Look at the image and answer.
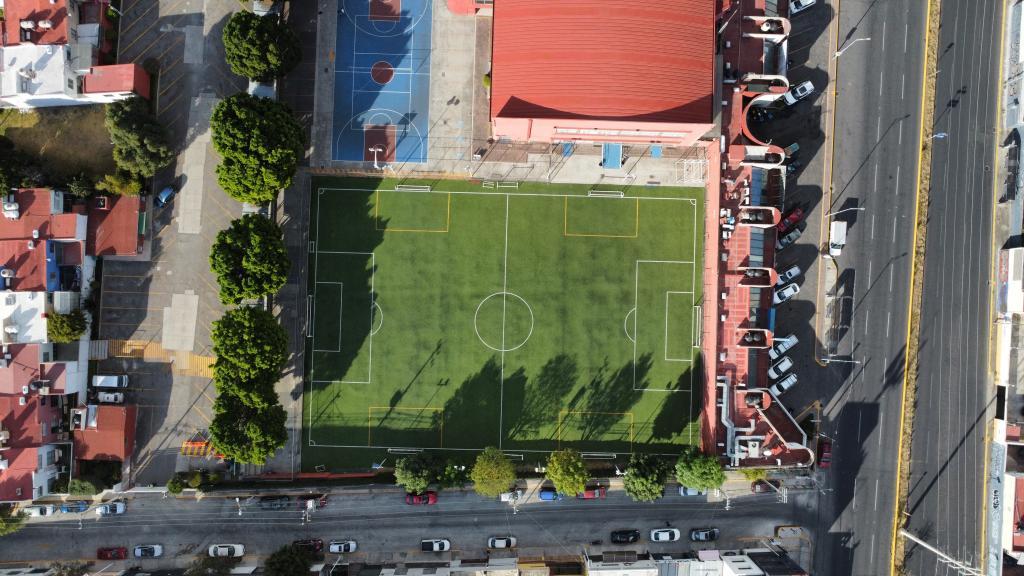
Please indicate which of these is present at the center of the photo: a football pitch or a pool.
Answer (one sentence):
It is a football pitch that can be seen at the center of the photo.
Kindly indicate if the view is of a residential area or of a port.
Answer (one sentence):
It's a residential area.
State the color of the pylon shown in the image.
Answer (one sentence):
In this view, the pylon is white.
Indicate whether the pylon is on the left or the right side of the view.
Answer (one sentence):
The pylon appears in the right half of the scene.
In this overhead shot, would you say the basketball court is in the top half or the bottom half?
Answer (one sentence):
Seen from above, the basketball court lies in the top half of the view.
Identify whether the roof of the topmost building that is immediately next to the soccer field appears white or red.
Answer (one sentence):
From above, the roof of the topmost building that is immediately next to the soccer field appears red.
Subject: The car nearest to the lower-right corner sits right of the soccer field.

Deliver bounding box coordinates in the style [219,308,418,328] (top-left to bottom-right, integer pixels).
[818,440,832,468]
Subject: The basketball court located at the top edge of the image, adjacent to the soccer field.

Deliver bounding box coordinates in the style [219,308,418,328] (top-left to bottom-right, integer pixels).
[332,0,432,163]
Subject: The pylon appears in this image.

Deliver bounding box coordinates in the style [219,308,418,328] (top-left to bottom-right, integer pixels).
[898,529,994,576]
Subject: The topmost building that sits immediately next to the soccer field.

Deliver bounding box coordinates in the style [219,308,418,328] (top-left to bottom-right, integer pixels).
[487,0,721,141]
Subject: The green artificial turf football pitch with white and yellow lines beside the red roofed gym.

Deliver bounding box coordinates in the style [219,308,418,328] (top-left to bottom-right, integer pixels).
[301,178,704,472]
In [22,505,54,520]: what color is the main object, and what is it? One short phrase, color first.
white car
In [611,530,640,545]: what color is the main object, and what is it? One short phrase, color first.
black car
